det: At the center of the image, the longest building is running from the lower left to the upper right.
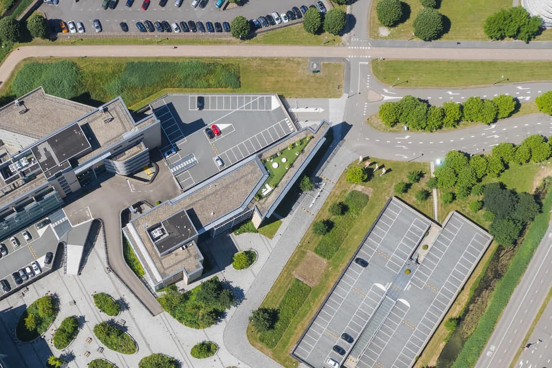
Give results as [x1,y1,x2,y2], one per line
[123,120,331,290]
